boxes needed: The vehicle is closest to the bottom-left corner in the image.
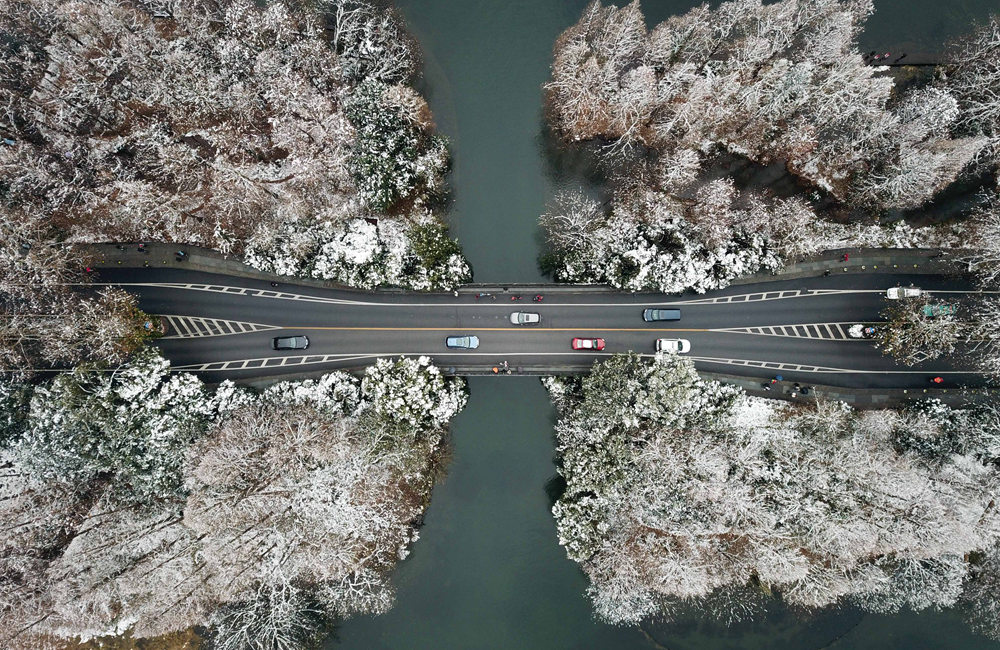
[273,335,311,350]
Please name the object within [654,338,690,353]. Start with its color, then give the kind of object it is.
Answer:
white car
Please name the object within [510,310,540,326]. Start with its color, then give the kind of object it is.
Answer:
white car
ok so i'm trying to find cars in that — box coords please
[642,305,683,323]
[654,338,690,353]
[510,310,540,326]
[446,334,480,350]
[571,336,604,352]
[883,286,923,301]
[273,335,311,350]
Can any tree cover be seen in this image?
Yes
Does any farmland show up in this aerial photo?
No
